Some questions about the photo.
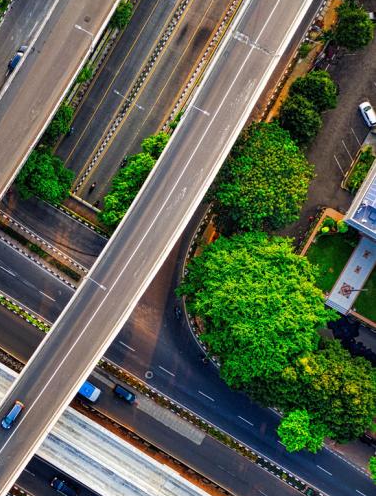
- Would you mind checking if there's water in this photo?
No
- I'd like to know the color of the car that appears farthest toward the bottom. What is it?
black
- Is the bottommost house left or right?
right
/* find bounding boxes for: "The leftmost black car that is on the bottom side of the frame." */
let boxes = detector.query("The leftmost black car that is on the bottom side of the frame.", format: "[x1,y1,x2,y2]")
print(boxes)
[49,475,79,496]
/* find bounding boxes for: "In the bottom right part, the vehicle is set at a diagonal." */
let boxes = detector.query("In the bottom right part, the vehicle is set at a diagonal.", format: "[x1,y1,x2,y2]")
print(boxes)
[355,430,376,451]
